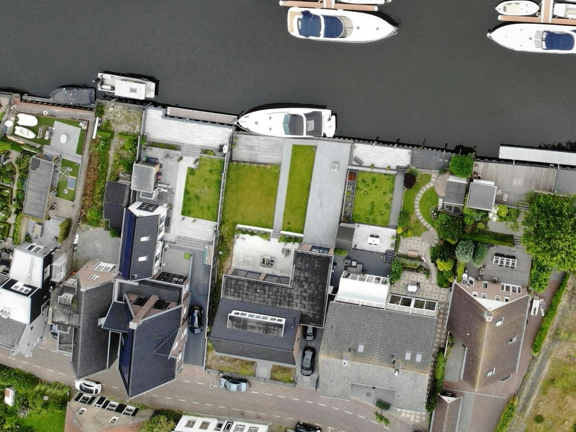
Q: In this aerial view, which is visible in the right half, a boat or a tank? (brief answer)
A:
boat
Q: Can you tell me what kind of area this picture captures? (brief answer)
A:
residential area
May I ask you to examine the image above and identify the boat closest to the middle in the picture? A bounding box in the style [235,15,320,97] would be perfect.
[234,106,335,137]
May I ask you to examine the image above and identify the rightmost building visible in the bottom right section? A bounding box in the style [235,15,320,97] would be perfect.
[455,272,531,392]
